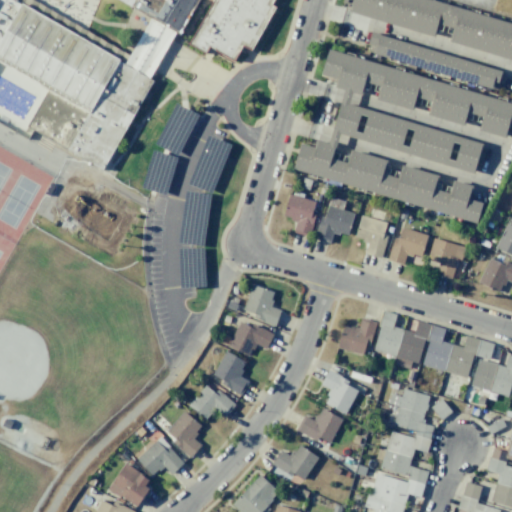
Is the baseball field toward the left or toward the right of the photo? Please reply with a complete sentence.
You can find the baseball field on the left side of the picture.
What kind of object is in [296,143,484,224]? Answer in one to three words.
building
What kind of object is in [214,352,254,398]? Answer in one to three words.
house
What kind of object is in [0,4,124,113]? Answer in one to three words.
building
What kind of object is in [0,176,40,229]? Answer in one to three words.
tennis court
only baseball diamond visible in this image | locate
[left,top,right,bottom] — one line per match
[0,318,60,464]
